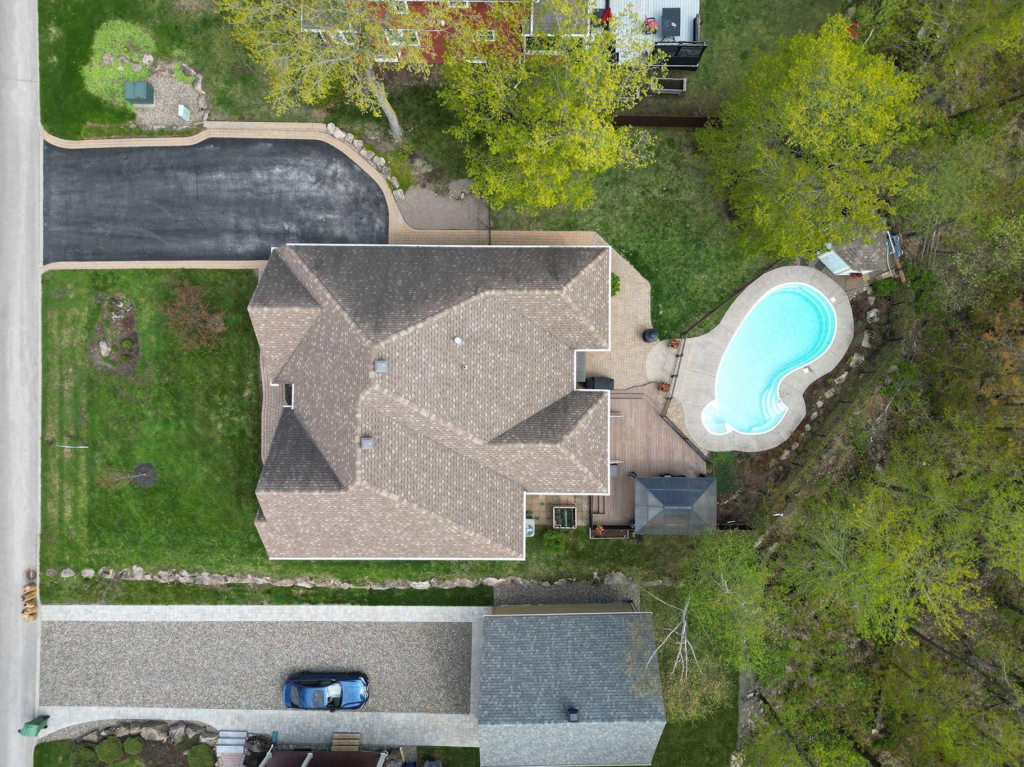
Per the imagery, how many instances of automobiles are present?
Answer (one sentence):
The picture shows just 1 automobile.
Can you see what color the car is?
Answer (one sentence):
The car is blue.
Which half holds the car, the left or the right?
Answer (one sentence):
It is on the left.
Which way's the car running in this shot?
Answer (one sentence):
The car is laid out from left to right.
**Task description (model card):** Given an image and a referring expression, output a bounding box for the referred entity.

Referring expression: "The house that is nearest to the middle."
[247,244,612,561]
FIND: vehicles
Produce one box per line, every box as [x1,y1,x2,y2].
[281,673,367,716]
